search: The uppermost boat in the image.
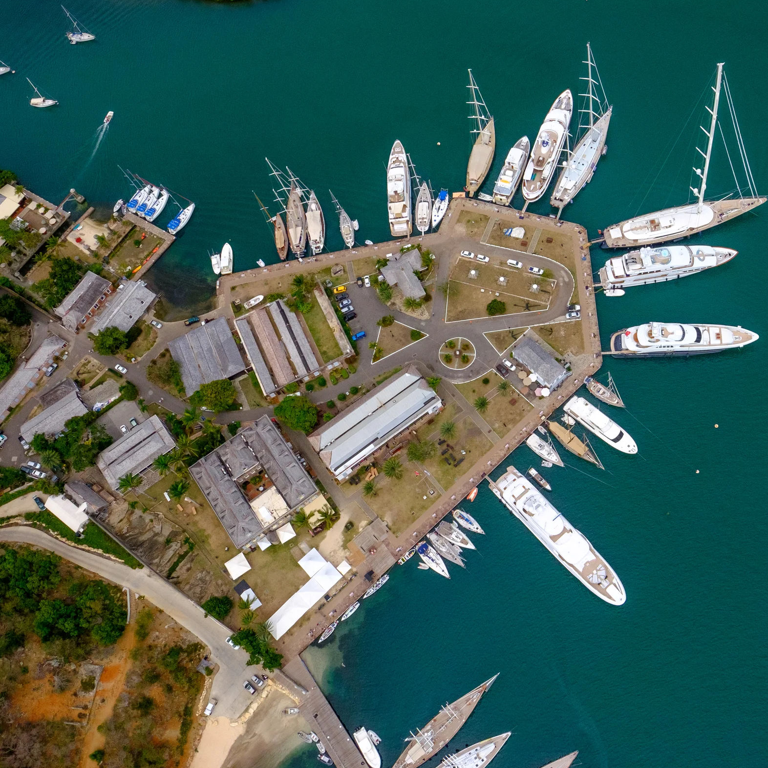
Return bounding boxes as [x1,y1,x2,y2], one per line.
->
[57,6,95,42]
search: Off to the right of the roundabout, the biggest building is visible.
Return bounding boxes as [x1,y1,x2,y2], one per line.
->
[513,337,570,394]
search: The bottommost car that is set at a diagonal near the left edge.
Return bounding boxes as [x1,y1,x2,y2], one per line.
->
[31,495,47,512]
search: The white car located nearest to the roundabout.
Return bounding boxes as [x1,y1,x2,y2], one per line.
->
[502,358,518,372]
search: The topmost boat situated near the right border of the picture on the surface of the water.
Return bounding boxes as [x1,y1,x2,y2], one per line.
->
[580,60,767,254]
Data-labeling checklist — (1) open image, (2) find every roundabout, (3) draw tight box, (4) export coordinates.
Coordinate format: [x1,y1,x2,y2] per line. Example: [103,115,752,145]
[439,336,476,370]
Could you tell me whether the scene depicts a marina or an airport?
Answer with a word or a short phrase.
marina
